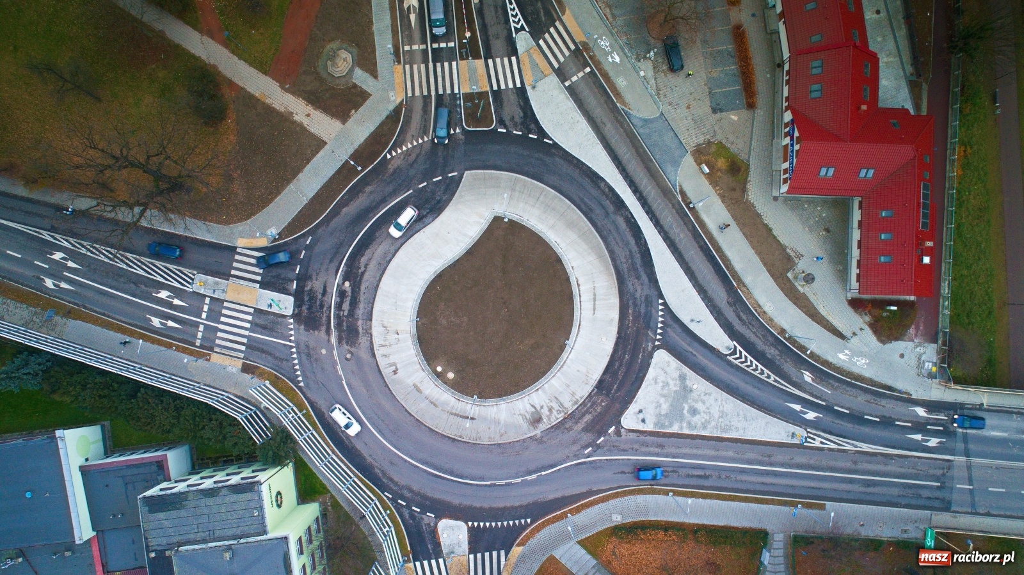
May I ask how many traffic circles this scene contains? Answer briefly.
1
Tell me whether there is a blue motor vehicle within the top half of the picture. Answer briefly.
Yes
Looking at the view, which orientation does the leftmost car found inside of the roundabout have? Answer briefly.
at an angle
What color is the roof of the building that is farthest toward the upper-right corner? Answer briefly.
red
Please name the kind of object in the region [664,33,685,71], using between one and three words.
car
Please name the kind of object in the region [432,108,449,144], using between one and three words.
car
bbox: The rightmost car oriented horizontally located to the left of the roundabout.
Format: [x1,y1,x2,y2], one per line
[255,251,291,268]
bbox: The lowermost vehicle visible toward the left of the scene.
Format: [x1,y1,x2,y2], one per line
[327,405,361,438]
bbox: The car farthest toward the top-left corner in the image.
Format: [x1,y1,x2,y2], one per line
[145,240,182,259]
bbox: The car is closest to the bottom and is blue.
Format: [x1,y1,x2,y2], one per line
[635,468,665,484]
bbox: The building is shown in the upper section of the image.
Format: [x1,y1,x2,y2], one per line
[768,0,936,296]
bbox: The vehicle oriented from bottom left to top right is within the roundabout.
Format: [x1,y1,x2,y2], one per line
[388,204,417,237]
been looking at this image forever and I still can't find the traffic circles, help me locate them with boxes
[291,129,940,525]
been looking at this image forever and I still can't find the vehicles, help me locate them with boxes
[428,0,446,35]
[635,468,665,484]
[388,204,417,237]
[954,415,990,431]
[145,240,182,259]
[432,108,449,144]
[255,251,291,268]
[664,33,685,71]
[327,405,361,438]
